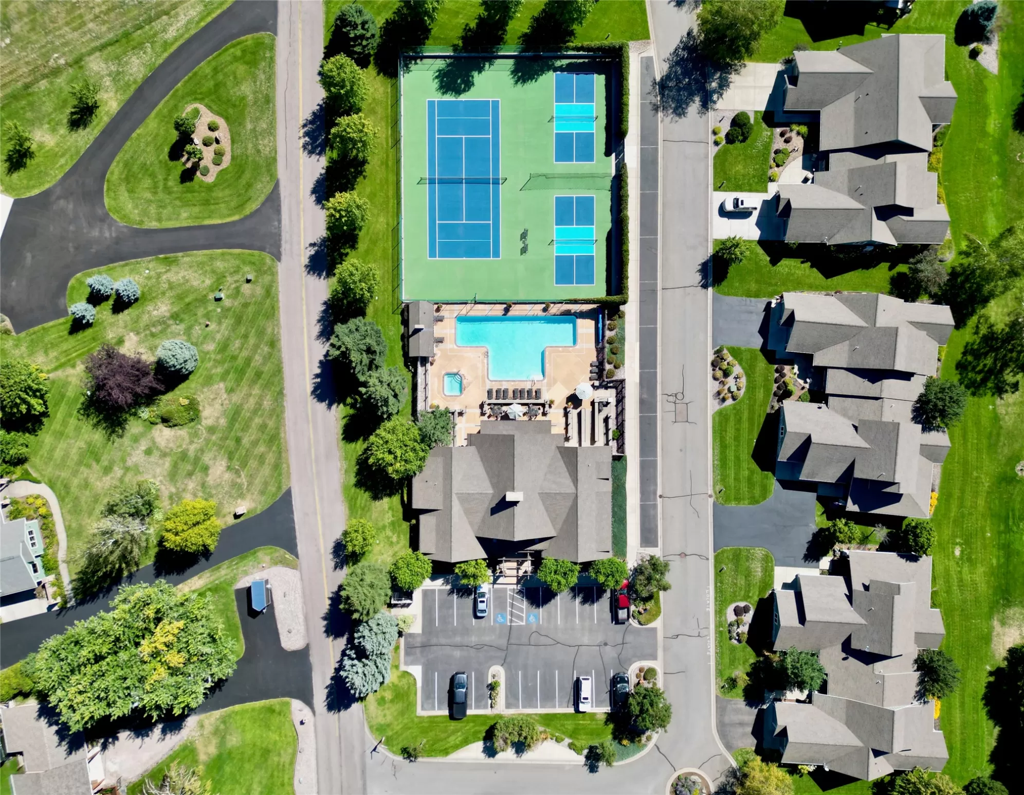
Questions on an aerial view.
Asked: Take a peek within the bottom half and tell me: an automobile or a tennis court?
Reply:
automobile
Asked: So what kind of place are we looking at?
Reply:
residential area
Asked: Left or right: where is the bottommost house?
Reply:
left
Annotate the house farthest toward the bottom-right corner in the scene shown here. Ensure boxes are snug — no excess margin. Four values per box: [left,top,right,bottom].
[768,549,949,781]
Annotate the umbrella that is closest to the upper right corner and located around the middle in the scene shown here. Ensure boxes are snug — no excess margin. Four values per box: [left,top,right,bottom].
[576,383,592,399]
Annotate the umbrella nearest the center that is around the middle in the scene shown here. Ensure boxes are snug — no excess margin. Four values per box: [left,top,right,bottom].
[506,403,522,419]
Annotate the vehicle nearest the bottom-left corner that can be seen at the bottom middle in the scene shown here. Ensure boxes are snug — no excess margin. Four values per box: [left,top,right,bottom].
[452,672,469,716]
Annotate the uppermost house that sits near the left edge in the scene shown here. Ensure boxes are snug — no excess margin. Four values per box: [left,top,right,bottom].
[0,518,48,598]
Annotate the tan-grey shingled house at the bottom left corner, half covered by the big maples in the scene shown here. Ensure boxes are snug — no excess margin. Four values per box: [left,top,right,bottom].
[1,697,99,795]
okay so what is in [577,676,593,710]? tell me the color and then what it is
white car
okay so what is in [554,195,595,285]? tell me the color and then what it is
blue sports court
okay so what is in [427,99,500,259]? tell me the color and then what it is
blue tennis court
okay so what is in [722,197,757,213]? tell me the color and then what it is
white car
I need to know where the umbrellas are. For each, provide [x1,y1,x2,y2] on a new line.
[576,383,592,399]
[506,403,522,419]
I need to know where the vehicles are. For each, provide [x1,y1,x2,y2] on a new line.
[613,673,628,708]
[722,197,757,213]
[475,583,490,616]
[615,578,631,621]
[577,676,593,710]
[452,672,469,716]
